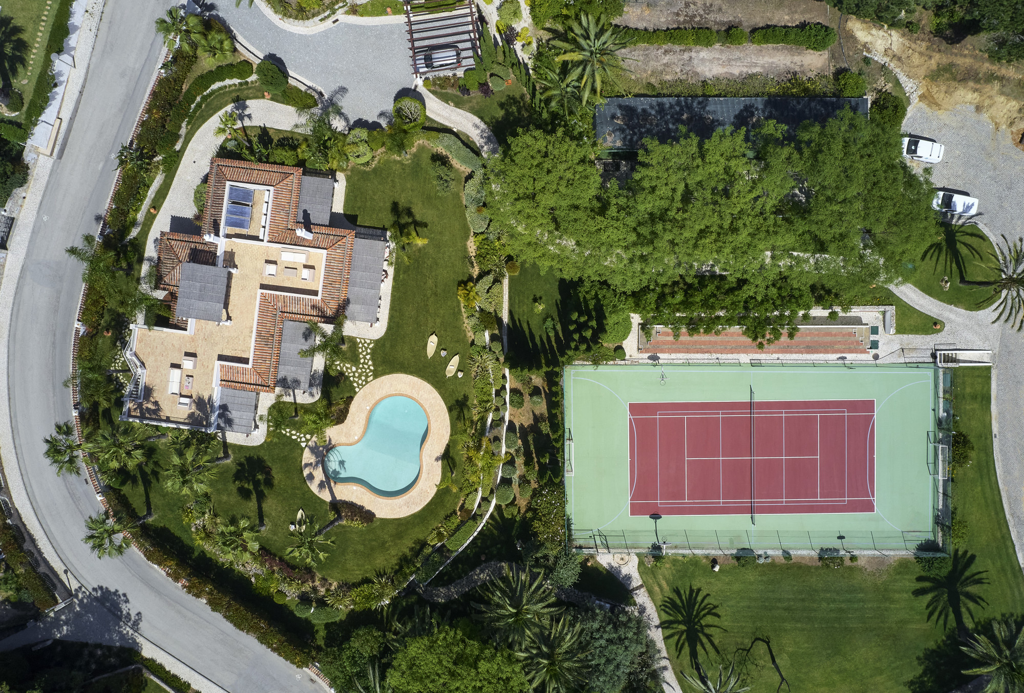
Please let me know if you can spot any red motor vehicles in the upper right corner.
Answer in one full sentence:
No, I can find no red motor vehicle in the upper right corner.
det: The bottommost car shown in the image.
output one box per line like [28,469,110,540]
[929,190,981,216]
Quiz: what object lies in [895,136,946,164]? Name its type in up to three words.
car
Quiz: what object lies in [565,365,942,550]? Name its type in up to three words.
sports court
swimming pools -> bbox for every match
[302,374,450,518]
